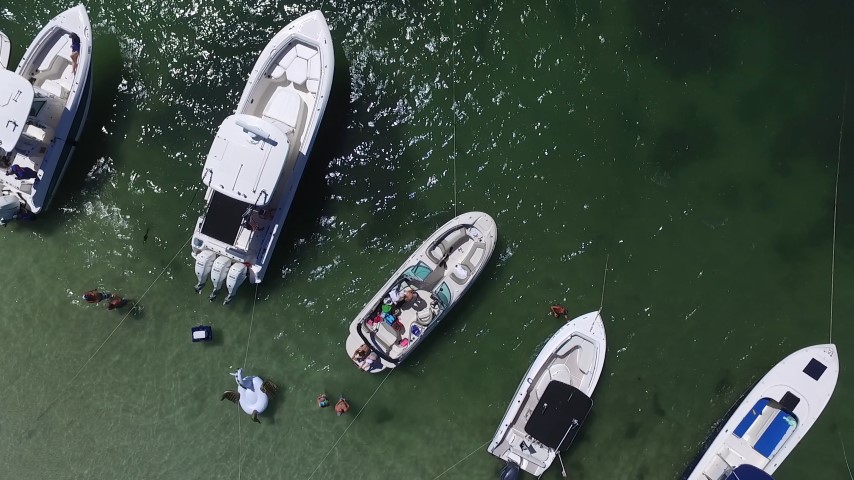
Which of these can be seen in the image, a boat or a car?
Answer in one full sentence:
This aerial view contains a boat.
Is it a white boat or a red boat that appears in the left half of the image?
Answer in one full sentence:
Visible in the left half of the image is a white boat.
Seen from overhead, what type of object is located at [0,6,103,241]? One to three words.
boat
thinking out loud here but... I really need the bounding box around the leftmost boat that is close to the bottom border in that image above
[488,312,607,478]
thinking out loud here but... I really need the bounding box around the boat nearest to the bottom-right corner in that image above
[659,343,839,480]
